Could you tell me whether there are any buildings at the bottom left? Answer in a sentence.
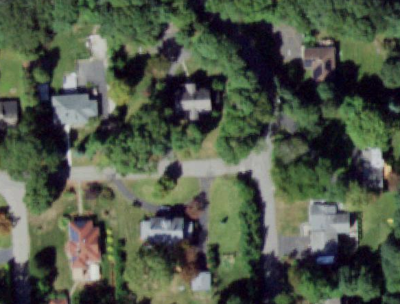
Yes, the scene does show a building at the bottom left.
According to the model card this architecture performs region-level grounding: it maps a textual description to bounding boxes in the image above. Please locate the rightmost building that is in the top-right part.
[305,39,336,86]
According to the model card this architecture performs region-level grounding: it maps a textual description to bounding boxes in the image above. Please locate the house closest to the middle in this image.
[180,81,211,121]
